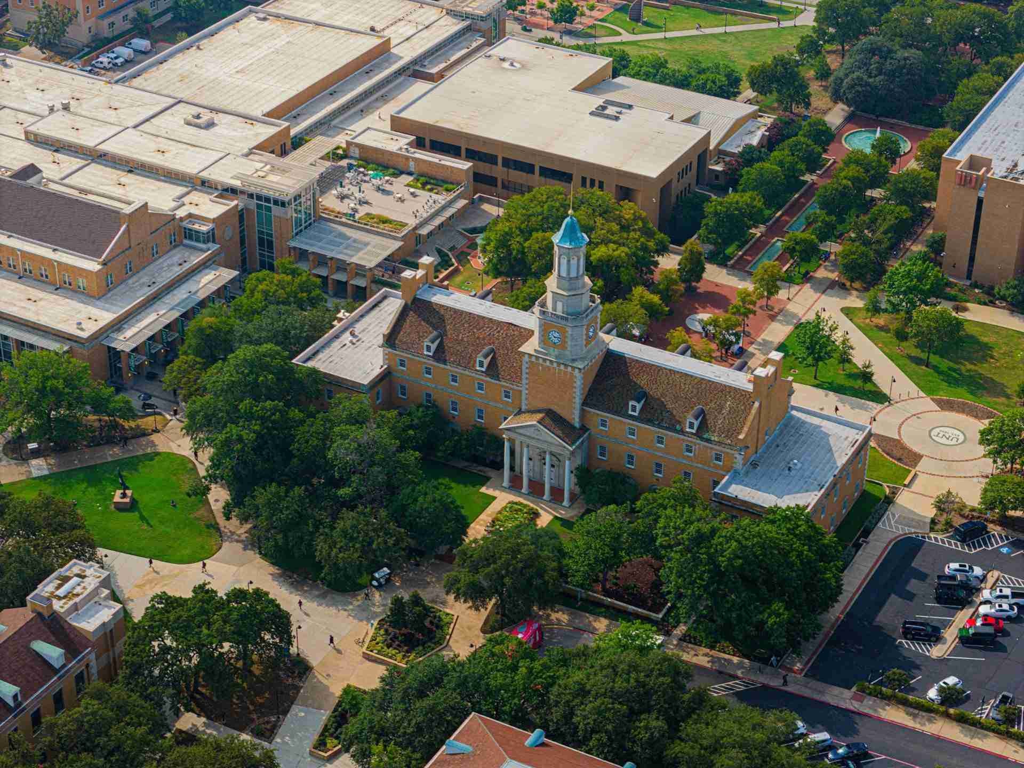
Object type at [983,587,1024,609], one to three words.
truck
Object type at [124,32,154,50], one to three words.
vehicle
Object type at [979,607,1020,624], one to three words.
car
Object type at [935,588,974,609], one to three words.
car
